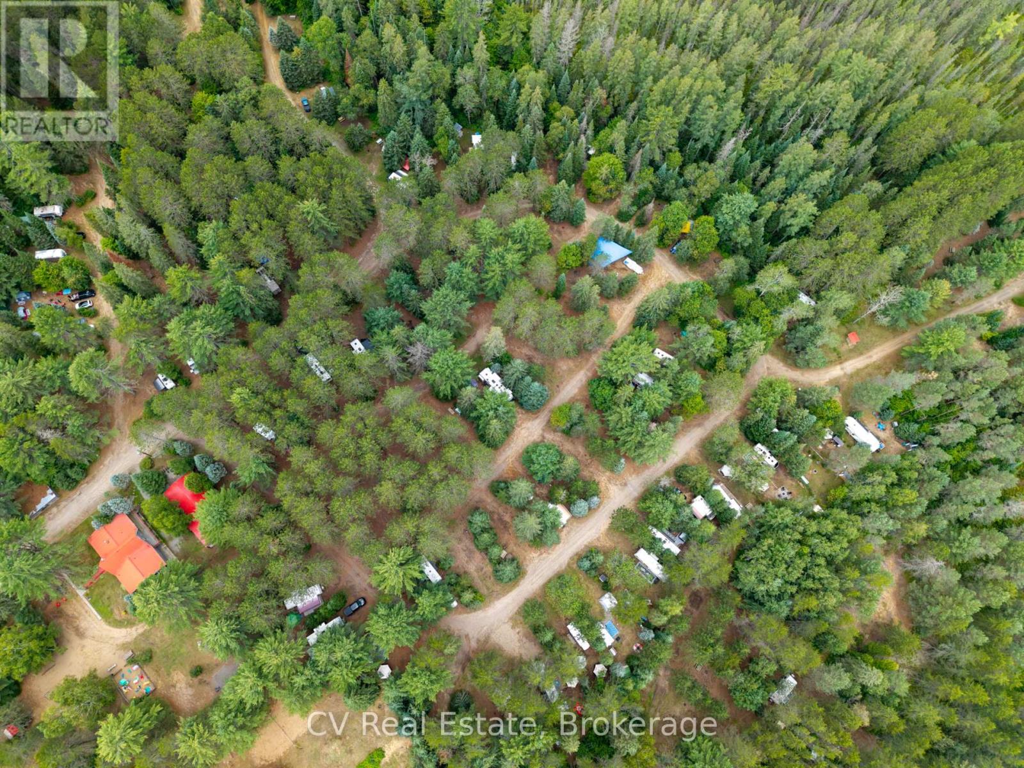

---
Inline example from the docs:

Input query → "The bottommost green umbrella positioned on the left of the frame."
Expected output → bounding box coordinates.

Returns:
[286,611,301,626]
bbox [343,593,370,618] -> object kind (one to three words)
truck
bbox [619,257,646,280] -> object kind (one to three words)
camper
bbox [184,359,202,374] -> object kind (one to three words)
camper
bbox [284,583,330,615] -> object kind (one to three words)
trailer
